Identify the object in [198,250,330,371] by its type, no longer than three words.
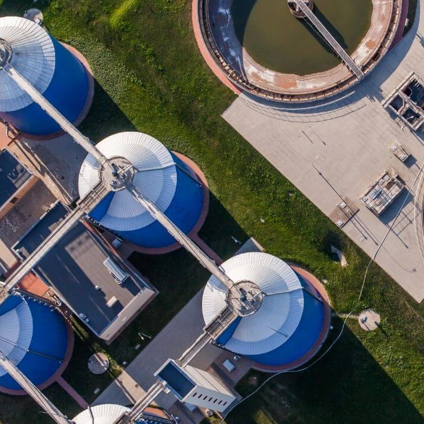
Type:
storage tank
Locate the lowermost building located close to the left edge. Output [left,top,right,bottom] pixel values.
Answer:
[12,201,156,342]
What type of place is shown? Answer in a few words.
industrial area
